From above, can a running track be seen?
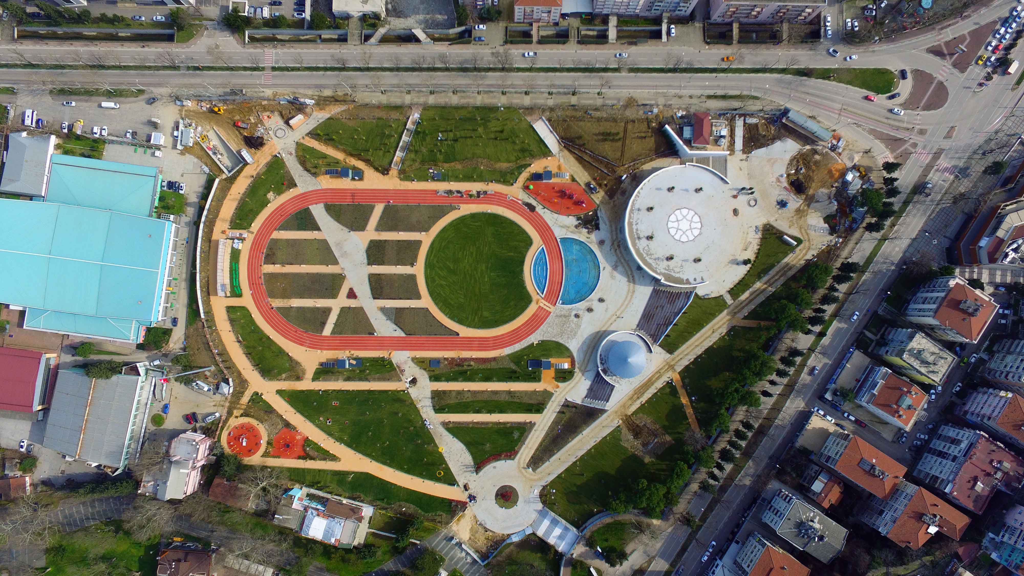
Yes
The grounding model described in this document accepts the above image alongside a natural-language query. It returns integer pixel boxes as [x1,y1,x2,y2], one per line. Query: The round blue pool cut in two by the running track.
[530,236,601,307]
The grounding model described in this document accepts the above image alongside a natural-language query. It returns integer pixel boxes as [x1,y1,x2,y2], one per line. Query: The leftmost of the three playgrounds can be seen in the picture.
[226,422,262,458]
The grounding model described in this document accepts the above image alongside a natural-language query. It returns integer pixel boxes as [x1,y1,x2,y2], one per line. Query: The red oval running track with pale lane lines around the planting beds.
[246,188,564,352]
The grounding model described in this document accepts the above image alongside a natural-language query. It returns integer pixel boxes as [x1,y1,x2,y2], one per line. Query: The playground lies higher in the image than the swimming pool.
[524,182,597,215]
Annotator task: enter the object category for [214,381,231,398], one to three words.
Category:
gazebo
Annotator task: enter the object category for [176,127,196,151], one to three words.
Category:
building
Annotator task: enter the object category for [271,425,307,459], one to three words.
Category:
playground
